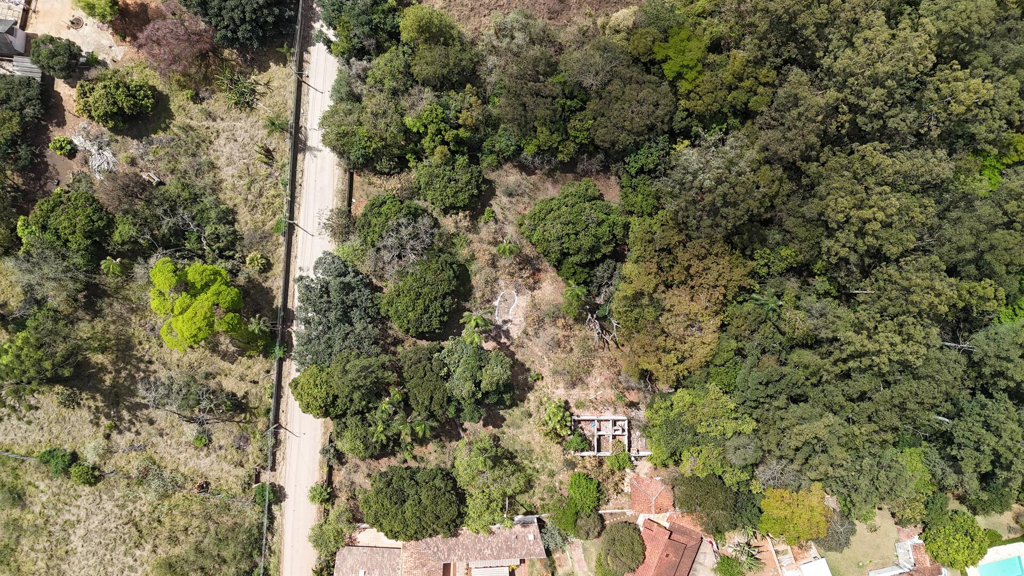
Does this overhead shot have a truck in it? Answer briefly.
No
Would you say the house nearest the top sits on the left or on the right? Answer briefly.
left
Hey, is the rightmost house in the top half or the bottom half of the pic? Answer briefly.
bottom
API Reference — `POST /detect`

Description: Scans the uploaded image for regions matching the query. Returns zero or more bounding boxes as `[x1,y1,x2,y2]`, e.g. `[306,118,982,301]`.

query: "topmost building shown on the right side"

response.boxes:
[630,475,675,515]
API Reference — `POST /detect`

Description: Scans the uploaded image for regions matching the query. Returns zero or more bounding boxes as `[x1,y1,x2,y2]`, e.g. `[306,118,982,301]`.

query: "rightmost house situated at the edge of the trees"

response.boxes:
[865,536,948,576]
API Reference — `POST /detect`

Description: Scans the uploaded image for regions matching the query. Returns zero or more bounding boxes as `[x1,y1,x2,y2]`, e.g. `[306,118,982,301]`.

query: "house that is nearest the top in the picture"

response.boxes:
[0,20,35,57]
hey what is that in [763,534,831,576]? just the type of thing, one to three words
house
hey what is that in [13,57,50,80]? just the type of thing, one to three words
shed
